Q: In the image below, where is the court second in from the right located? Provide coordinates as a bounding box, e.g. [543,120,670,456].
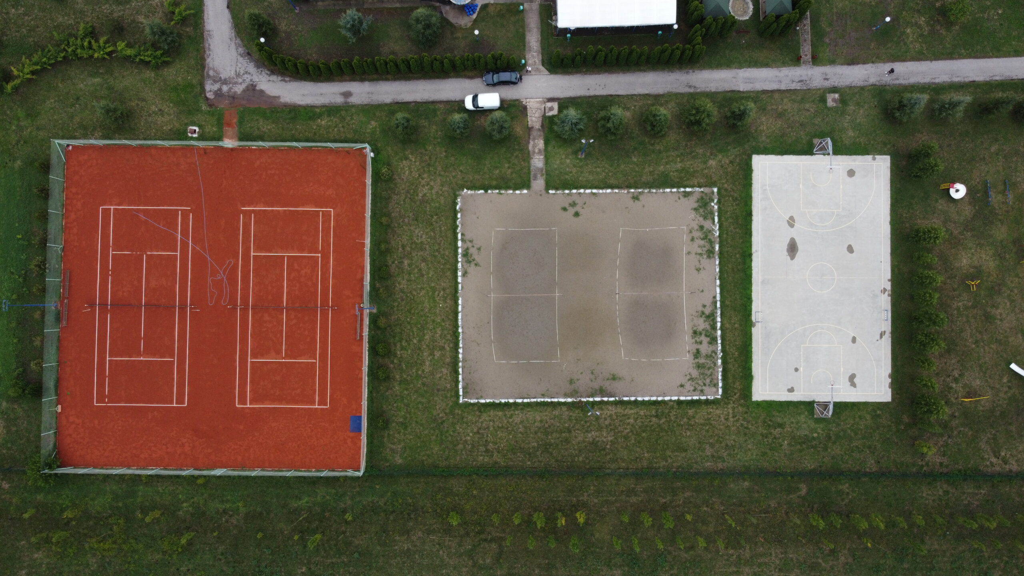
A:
[588,190,719,399]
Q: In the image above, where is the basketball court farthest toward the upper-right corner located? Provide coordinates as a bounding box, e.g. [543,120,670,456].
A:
[752,155,892,401]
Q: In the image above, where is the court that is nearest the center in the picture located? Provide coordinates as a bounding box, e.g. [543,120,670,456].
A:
[461,192,589,400]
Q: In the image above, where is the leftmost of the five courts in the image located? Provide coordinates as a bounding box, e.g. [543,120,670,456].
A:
[58,145,214,468]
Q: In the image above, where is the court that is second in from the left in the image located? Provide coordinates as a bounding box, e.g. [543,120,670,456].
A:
[212,148,368,469]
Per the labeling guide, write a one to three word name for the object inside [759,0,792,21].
gazebo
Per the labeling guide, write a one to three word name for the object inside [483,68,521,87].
car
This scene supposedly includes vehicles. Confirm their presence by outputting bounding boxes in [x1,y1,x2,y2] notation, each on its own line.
[465,92,502,111]
[483,68,521,87]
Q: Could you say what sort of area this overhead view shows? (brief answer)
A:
sports ground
